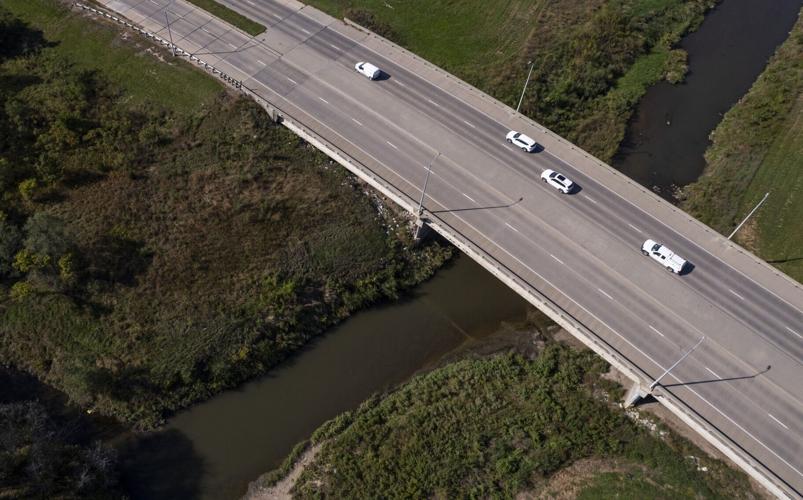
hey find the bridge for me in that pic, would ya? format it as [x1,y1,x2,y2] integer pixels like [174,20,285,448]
[235,16,803,500]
